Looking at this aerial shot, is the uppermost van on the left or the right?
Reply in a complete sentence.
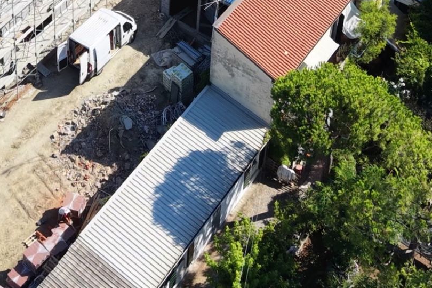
The uppermost van appears in the left half of the scene.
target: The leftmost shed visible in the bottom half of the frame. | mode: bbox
[36,84,273,288]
